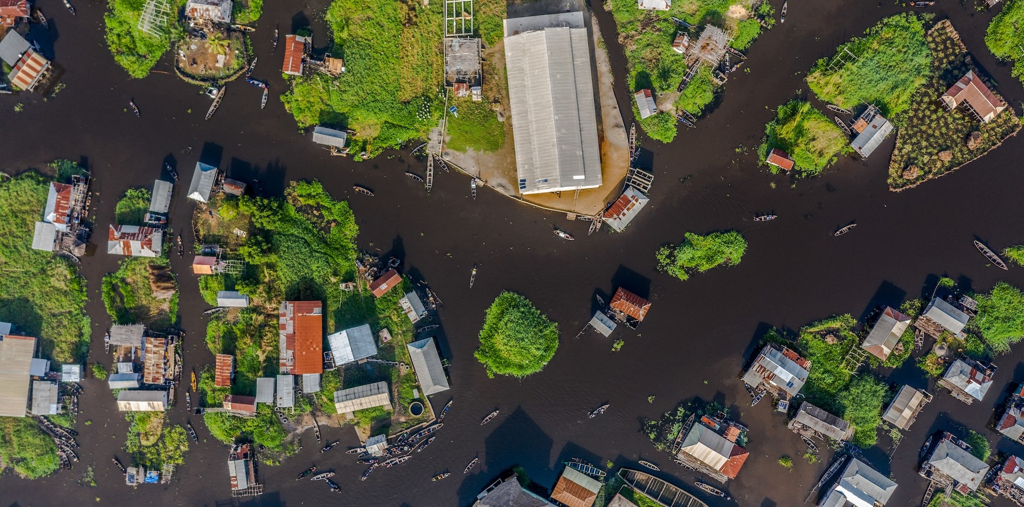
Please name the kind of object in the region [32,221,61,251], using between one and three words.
shed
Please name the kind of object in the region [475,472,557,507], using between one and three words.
building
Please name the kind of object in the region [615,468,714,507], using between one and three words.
ship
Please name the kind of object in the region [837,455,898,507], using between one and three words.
house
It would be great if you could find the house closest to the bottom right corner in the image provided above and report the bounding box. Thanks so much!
[989,453,1024,505]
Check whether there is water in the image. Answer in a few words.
Yes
